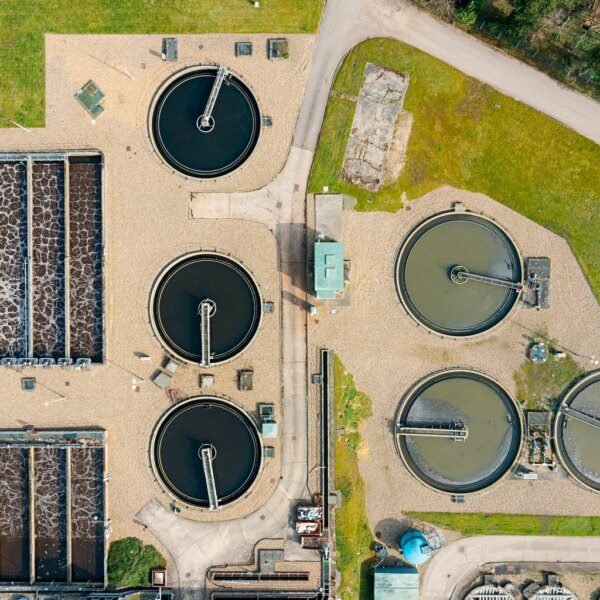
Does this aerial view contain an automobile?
No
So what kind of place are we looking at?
industrial area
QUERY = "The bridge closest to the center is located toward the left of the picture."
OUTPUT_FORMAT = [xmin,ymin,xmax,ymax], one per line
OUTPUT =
[197,304,211,366]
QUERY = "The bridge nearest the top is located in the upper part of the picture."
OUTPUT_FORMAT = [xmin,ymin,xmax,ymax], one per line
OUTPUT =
[200,64,230,124]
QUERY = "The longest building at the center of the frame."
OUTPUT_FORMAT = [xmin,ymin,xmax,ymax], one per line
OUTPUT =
[314,232,343,298]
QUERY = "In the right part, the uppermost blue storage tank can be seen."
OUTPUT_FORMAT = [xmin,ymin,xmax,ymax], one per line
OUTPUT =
[398,518,448,564]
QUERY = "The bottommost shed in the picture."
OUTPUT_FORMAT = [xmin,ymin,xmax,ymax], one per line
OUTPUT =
[373,564,419,600]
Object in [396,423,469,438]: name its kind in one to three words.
bridge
